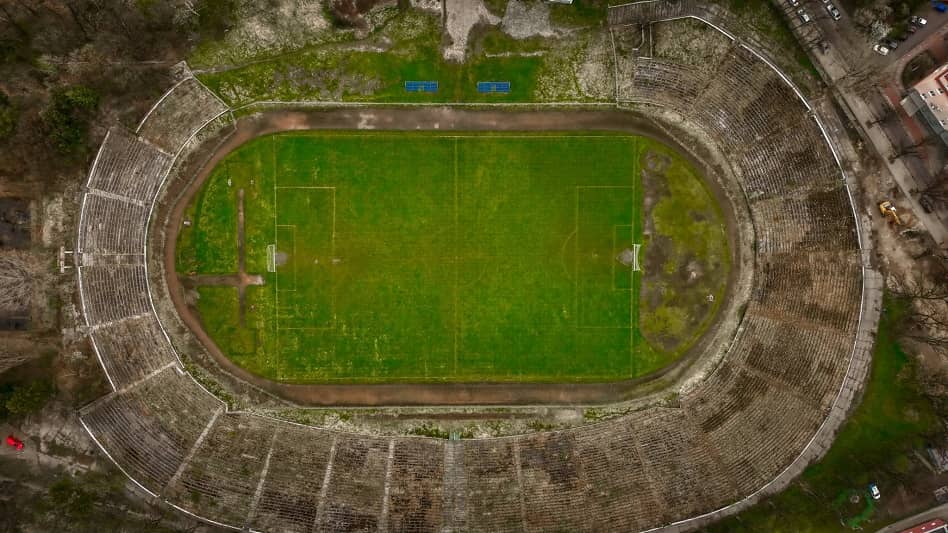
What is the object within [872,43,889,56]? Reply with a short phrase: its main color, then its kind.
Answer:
white vehicle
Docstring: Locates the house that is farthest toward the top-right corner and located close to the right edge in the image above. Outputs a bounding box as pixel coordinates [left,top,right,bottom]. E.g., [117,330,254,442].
[900,60,948,153]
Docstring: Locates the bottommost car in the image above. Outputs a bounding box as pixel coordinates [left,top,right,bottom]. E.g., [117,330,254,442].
[867,483,879,498]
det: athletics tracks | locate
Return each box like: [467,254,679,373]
[165,107,742,406]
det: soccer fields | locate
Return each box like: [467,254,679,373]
[274,136,635,378]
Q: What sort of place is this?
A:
sports ground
